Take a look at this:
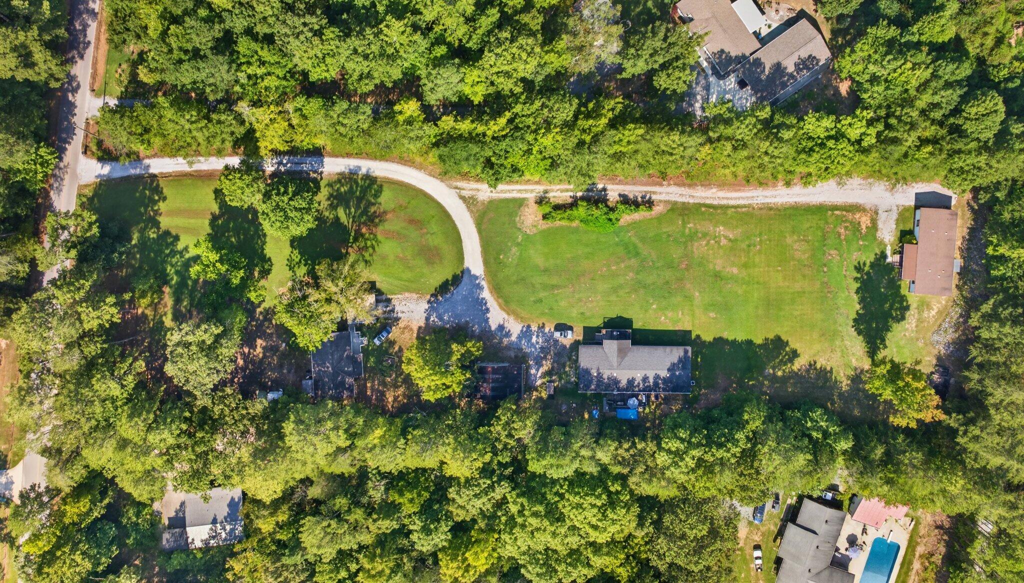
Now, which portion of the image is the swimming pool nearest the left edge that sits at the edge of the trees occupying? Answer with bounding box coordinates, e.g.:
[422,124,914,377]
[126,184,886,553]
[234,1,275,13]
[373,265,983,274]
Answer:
[616,408,639,420]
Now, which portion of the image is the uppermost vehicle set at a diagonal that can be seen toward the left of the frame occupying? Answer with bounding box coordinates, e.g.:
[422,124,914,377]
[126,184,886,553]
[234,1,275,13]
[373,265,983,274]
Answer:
[373,326,393,346]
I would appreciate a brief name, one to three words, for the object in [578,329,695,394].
house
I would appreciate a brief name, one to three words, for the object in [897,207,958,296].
house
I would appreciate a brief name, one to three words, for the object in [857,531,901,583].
swimming pool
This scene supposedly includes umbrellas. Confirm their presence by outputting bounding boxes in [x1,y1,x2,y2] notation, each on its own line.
[628,398,638,409]
[848,546,860,558]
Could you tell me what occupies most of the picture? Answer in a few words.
trees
